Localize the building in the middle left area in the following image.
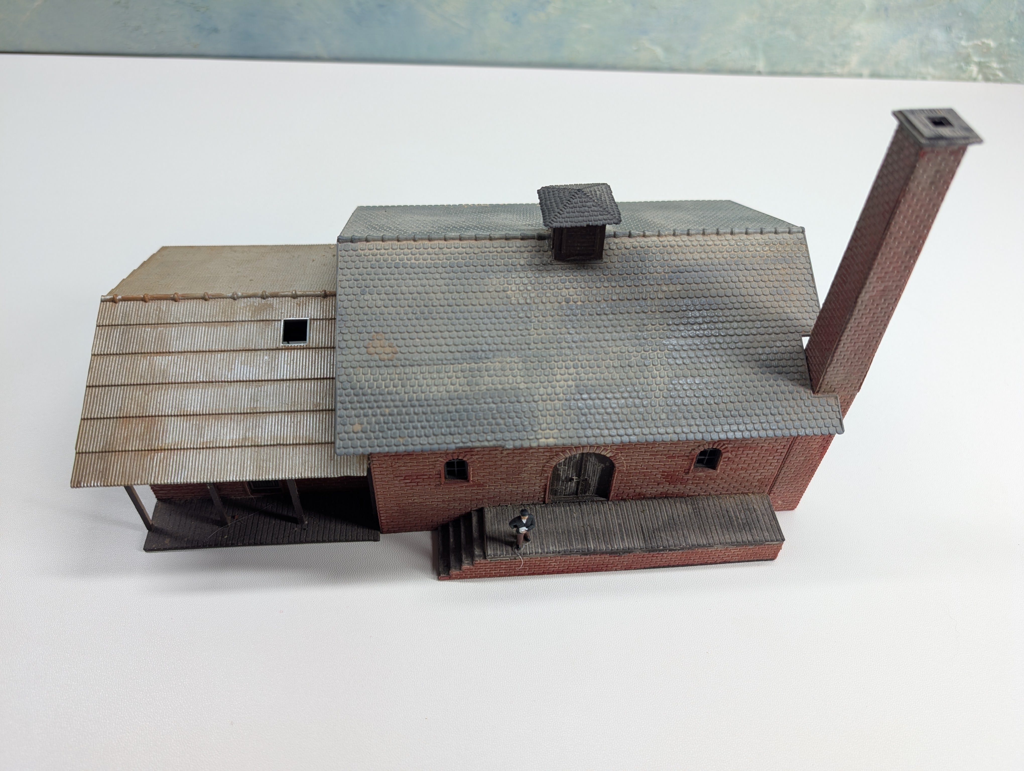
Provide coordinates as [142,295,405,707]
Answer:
[70,243,380,551]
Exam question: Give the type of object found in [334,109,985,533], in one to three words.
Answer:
building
